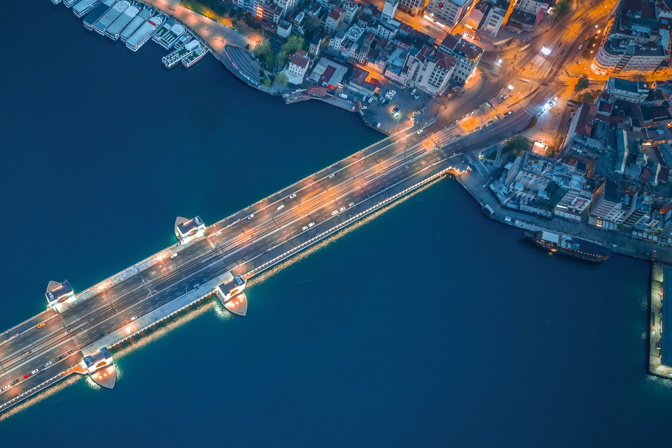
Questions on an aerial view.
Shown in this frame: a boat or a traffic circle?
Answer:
boat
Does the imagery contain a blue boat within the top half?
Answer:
Yes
